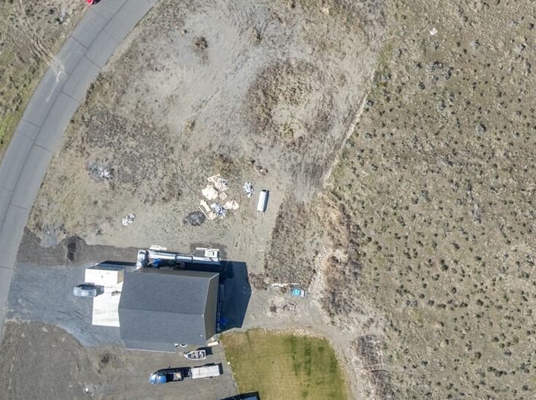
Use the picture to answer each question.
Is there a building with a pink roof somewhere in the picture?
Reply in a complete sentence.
No, I find no building with a pink roof anywhere in the image.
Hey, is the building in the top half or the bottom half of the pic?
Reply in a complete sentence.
You can find the building in the bottom half.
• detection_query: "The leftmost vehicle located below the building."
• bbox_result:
[150,370,186,387]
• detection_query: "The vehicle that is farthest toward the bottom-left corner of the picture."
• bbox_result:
[73,284,98,298]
